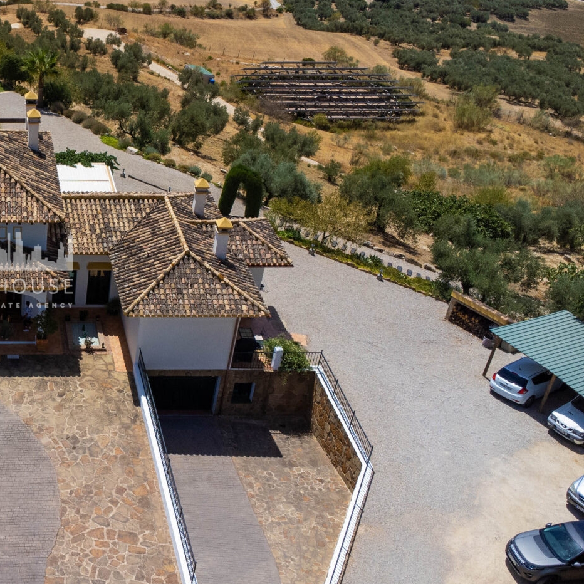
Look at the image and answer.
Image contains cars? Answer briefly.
Yes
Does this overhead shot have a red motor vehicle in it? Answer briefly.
No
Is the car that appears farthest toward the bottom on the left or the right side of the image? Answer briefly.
right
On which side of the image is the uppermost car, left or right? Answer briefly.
right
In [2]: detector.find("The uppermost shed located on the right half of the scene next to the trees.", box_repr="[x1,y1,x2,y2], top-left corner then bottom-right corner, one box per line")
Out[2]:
[442,290,521,354]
